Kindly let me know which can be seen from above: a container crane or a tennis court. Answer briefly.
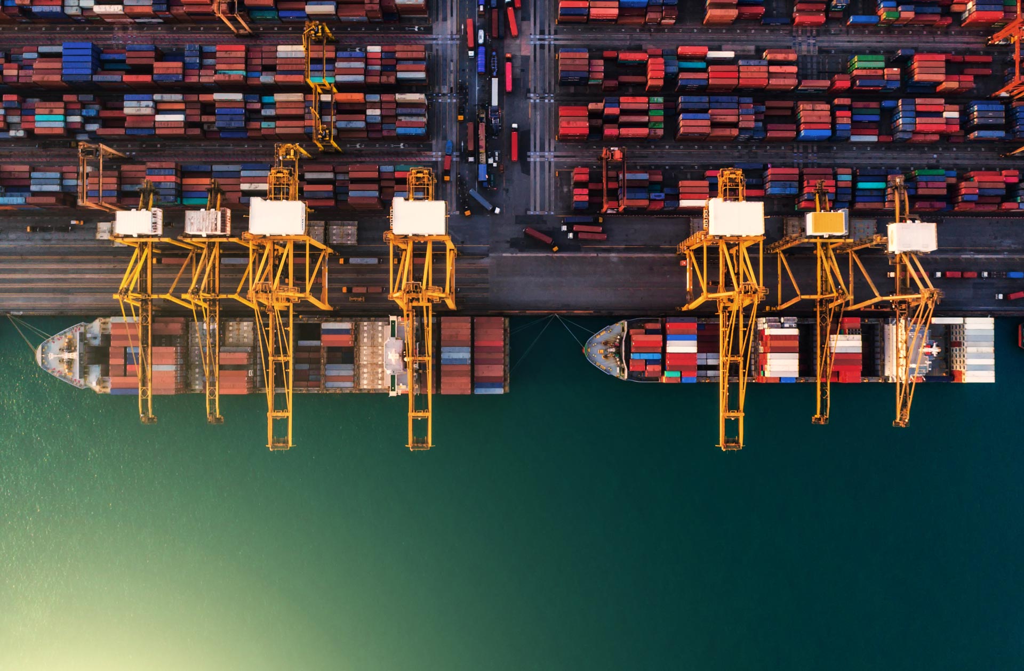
container crane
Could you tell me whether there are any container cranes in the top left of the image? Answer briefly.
Yes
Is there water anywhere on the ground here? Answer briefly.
Yes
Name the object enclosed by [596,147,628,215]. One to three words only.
container crane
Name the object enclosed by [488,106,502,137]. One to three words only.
work vehicle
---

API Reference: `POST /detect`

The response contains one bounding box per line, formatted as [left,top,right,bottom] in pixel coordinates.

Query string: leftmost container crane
[79,143,129,212]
